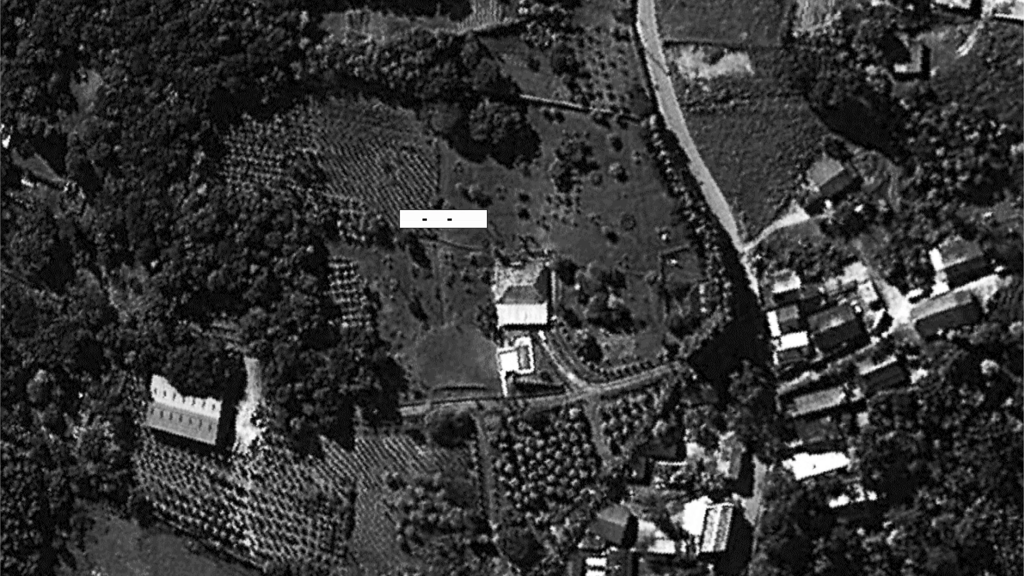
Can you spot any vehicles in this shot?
No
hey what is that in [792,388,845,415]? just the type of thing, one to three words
building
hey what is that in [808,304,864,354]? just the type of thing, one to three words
house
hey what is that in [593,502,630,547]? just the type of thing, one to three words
house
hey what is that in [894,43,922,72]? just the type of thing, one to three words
building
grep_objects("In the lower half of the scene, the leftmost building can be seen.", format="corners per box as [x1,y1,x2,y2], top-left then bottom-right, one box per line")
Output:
[146,375,222,445]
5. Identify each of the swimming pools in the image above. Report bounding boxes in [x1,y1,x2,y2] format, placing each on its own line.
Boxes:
[516,337,534,374]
